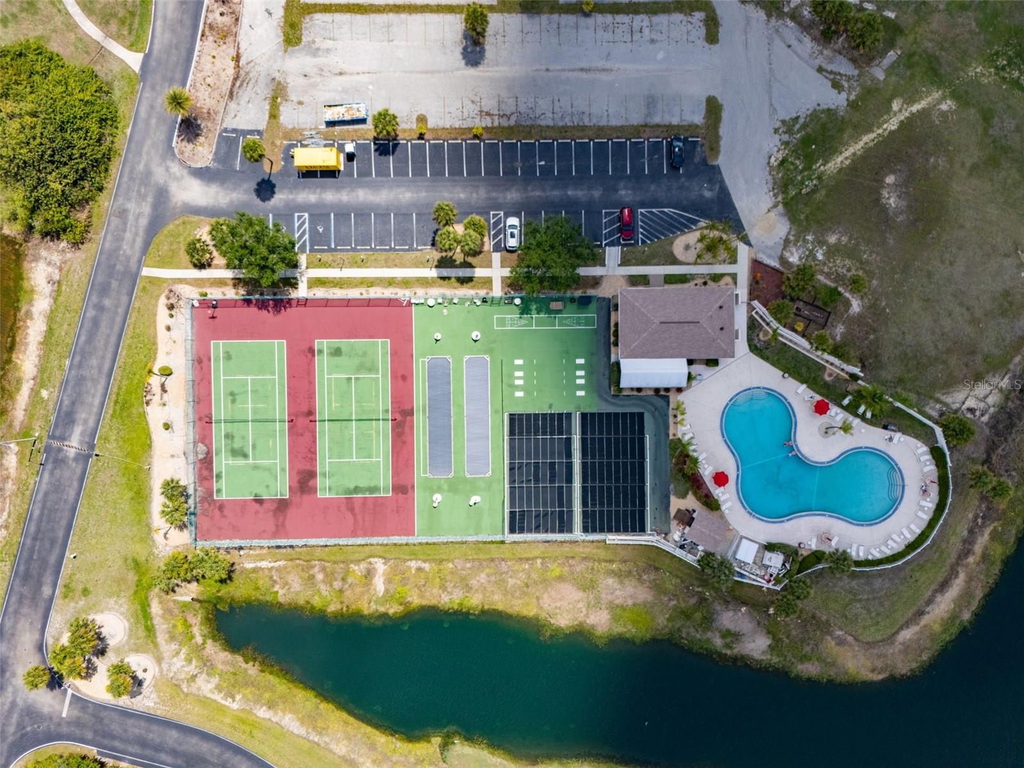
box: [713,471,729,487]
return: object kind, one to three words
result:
umbrella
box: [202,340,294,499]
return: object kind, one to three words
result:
tennis court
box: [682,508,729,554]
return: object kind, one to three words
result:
building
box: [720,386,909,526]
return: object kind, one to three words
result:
swimming pool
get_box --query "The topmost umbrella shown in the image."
[813,399,830,415]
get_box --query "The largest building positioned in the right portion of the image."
[619,288,741,358]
